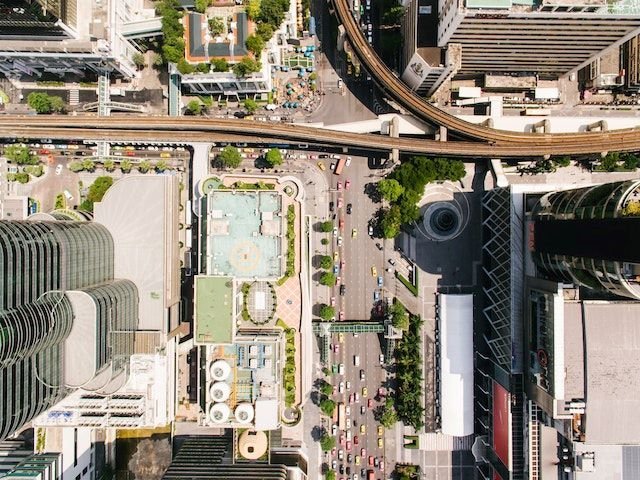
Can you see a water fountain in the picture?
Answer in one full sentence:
Yes, looking at the shot, I can spot a water fountain.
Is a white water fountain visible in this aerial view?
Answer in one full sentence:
No, I can't see a single white water fountain in this photo.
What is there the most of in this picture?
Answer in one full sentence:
Most of the picture is covered by buildings.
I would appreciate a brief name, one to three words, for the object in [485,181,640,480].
building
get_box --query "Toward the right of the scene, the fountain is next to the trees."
[422,198,459,236]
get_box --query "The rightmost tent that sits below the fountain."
[435,292,476,439]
